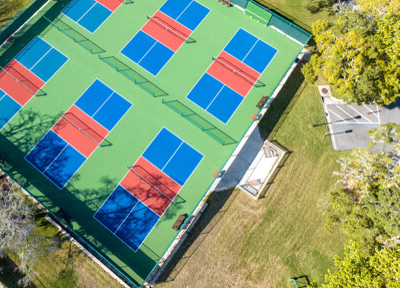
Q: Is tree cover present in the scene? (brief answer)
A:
Yes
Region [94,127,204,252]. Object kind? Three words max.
sports court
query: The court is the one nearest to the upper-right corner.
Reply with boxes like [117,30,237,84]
[187,28,278,124]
